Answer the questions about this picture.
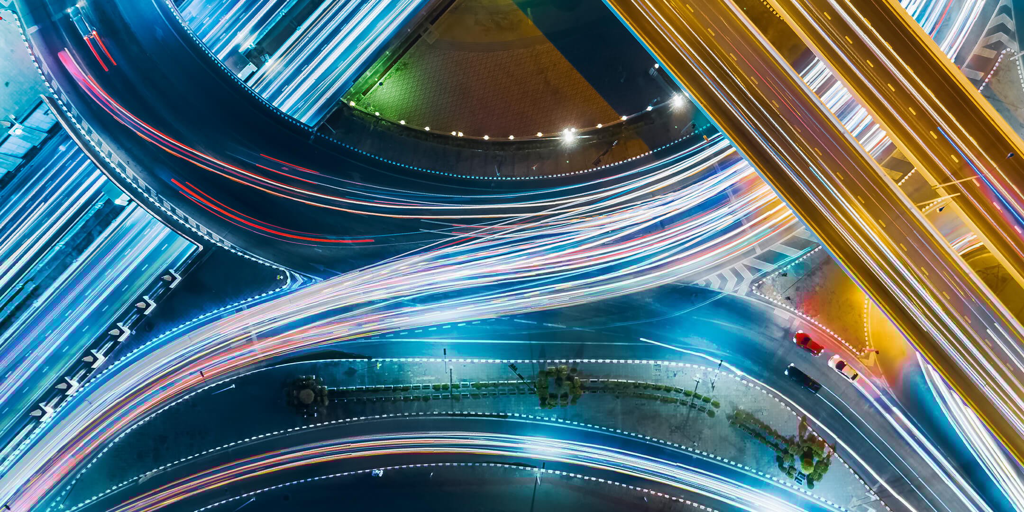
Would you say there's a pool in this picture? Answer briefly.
No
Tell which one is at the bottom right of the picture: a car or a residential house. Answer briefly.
car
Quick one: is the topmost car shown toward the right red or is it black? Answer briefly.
red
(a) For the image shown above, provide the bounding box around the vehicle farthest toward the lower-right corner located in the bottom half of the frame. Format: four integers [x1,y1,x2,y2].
[830,354,861,381]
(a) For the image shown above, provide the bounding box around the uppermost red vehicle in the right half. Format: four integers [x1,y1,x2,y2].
[795,330,826,356]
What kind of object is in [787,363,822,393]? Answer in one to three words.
car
